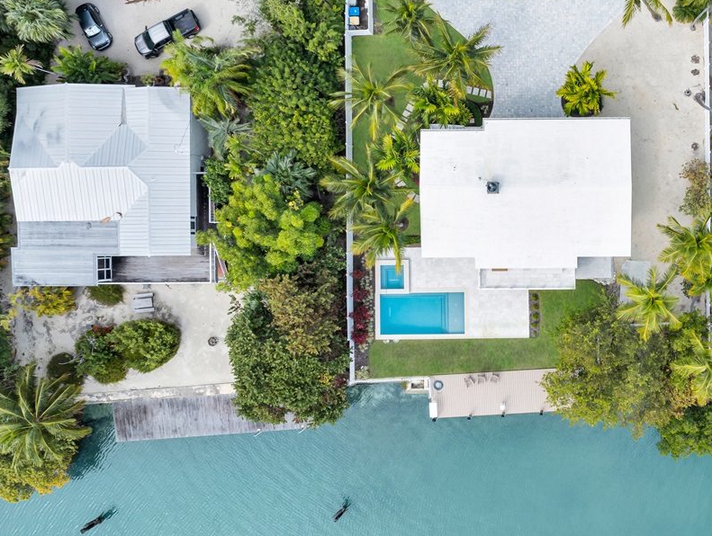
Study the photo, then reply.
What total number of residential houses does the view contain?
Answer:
two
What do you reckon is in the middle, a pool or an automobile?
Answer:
pool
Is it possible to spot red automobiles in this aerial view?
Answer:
No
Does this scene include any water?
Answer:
Yes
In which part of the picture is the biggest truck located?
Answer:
top left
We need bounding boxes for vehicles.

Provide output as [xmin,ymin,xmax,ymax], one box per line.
[70,1,112,52]
[132,3,203,58]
